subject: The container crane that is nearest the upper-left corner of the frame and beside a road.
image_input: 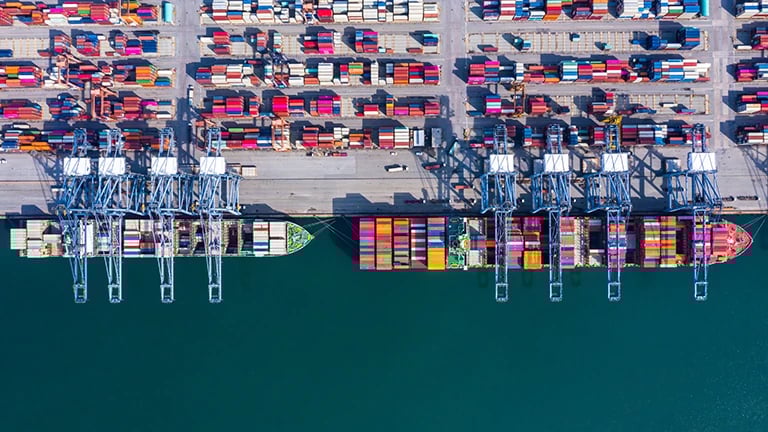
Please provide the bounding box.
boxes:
[57,55,84,93]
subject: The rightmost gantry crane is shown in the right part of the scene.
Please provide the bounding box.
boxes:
[656,122,728,302]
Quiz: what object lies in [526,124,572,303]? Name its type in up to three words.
container crane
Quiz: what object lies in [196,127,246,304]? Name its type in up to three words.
container crane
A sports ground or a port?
port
